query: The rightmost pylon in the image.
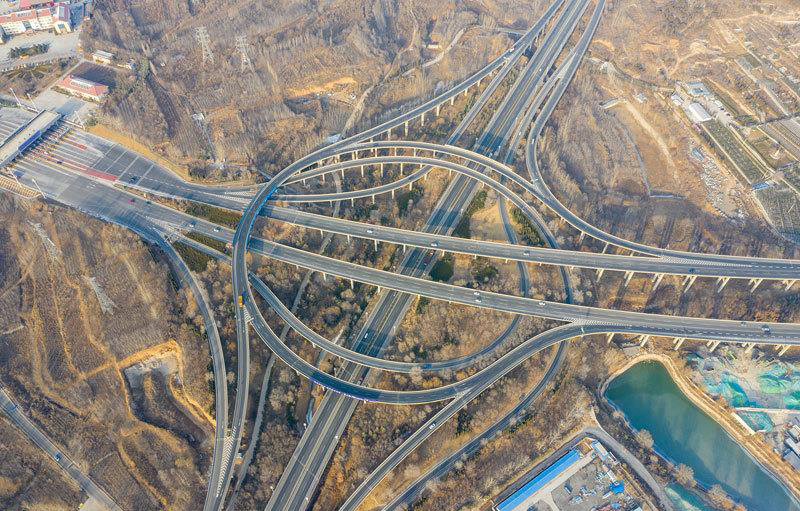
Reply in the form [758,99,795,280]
[235,33,252,71]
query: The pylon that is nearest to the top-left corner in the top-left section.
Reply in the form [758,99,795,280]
[195,26,215,67]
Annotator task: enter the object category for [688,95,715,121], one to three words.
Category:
shed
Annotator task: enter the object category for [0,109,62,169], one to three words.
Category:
toll station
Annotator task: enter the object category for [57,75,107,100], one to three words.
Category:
building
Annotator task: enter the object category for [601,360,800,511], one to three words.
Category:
pond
